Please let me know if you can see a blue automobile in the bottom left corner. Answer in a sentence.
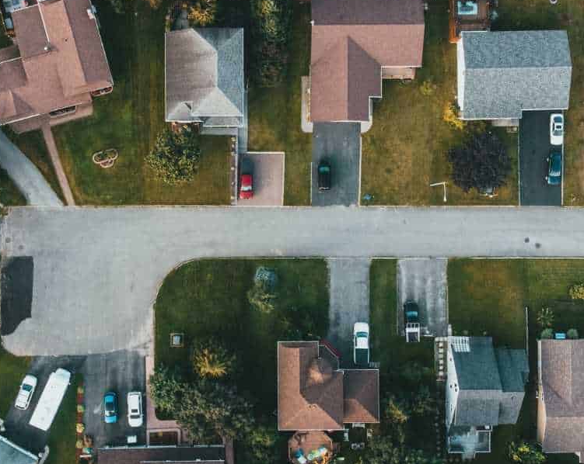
Yes, there is a blue automobile in the bottom left corner.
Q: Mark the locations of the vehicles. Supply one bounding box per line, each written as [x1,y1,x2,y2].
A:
[544,150,564,184]
[100,391,118,424]
[403,300,422,345]
[13,373,38,412]
[124,391,142,429]
[546,113,566,147]
[316,160,334,194]
[31,364,76,430]
[353,321,371,365]
[239,173,255,200]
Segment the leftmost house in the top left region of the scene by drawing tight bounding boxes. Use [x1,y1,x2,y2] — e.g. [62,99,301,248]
[0,0,114,126]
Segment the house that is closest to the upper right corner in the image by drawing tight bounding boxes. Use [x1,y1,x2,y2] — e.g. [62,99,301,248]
[449,0,573,122]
